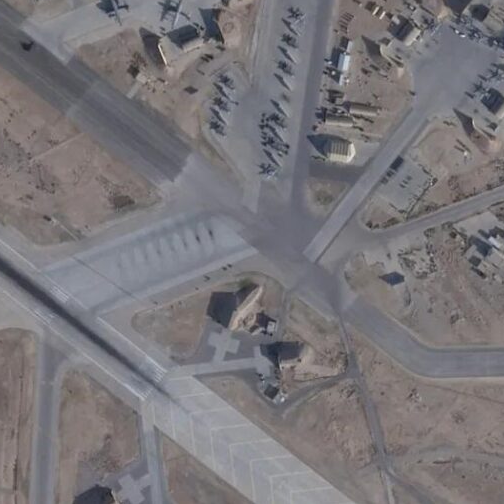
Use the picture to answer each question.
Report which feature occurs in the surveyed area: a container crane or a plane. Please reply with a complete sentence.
It is a plane that can be seen here.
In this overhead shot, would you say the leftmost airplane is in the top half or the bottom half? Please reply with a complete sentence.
The leftmost airplane is in the top half of the image.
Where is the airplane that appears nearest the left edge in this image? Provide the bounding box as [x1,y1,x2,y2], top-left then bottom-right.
[106,0,130,26]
